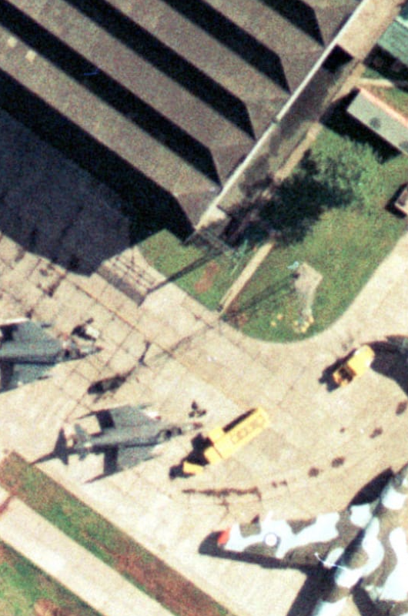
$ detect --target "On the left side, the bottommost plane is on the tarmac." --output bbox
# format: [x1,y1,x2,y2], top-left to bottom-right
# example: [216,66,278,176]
[78,409,203,476]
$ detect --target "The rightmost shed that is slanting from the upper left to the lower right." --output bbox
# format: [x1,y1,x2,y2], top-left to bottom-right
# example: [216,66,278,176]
[346,82,408,156]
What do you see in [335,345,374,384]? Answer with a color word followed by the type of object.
yellow work vehicle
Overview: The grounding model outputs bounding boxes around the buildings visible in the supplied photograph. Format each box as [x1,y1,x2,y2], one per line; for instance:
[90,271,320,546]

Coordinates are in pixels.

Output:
[346,82,408,156]
[378,10,408,66]
[0,0,365,241]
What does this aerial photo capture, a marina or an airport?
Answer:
airport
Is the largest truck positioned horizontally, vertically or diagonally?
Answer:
diagonally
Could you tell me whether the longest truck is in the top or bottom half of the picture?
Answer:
bottom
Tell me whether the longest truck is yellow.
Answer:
Yes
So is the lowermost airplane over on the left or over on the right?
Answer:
right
